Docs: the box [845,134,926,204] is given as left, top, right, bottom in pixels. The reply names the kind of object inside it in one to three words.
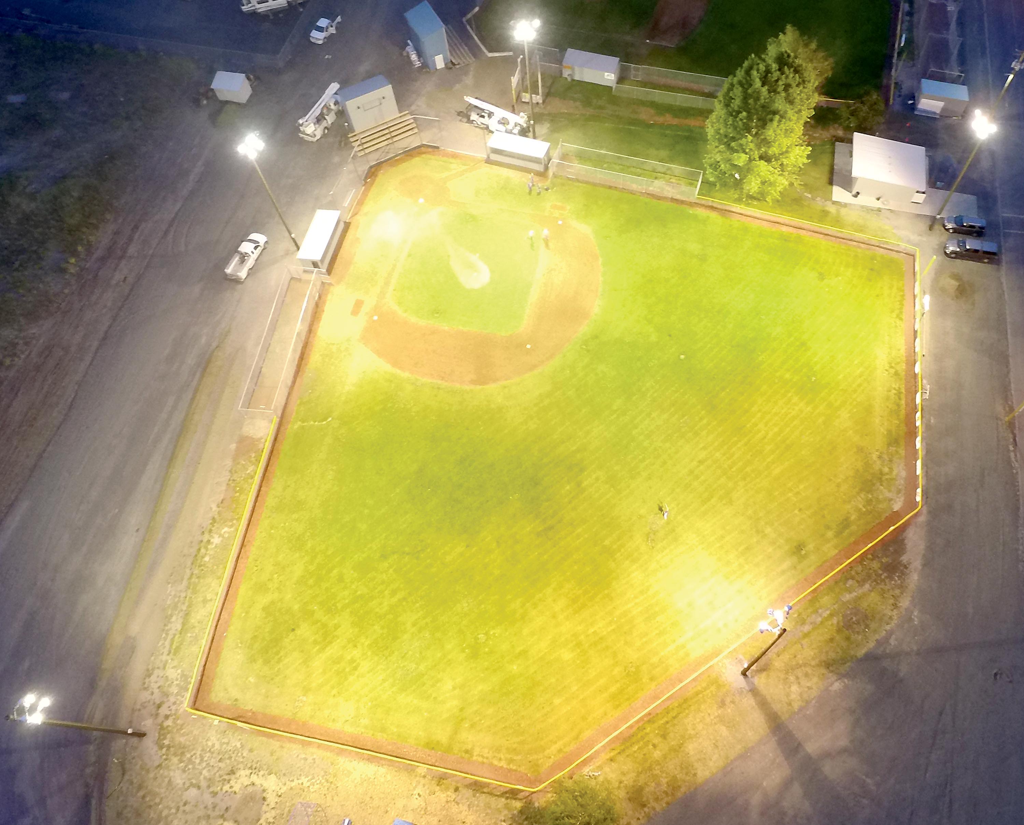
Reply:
building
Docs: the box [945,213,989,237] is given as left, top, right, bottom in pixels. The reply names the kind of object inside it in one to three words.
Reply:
car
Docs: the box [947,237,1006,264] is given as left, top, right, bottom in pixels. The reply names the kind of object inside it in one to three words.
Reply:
truck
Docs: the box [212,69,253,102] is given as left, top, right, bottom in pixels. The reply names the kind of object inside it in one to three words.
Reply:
shed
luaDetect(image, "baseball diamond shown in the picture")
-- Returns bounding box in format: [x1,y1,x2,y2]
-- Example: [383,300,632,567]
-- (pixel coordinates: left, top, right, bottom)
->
[195,145,916,788]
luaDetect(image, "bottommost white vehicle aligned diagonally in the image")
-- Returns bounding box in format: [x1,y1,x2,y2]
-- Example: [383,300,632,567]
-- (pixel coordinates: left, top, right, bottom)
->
[221,230,271,279]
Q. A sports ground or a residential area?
sports ground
